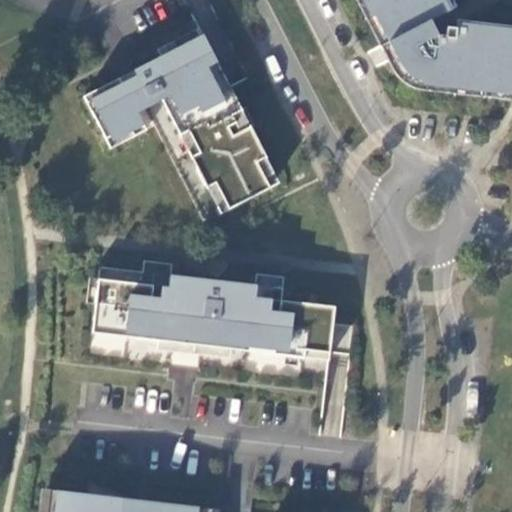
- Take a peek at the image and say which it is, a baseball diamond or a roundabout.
roundabout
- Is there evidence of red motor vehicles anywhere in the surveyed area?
Yes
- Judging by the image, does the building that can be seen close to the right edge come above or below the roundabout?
above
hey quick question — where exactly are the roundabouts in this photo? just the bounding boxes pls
[347,140,482,292]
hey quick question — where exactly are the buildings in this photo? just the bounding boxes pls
[39,488,216,512]
[84,32,280,216]
[86,260,336,373]
[361,0,512,102]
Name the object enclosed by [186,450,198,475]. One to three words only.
vehicle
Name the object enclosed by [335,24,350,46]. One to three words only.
car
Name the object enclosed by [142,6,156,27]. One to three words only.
car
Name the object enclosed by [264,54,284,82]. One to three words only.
vehicle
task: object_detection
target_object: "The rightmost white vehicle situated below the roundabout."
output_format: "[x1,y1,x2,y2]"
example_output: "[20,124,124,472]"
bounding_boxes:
[467,381,479,416]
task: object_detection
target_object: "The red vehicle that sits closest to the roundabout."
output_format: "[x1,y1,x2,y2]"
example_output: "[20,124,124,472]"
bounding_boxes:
[295,108,311,128]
